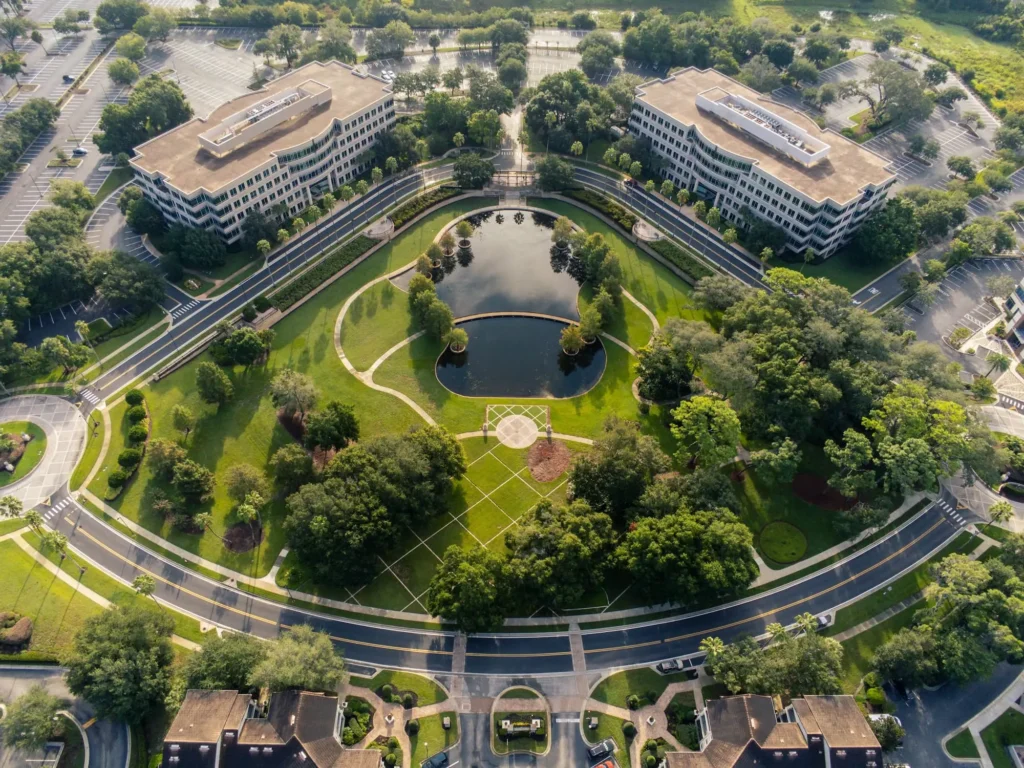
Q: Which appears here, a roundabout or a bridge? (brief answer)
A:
roundabout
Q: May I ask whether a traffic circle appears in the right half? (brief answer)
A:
Yes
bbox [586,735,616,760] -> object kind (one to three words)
truck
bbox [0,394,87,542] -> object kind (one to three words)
roundabout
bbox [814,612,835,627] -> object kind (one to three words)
car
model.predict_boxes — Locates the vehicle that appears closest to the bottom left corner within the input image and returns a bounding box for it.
[417,746,448,768]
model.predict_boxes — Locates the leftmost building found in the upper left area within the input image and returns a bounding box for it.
[129,59,397,254]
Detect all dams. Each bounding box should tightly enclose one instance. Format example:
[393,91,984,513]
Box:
[448,309,582,326]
